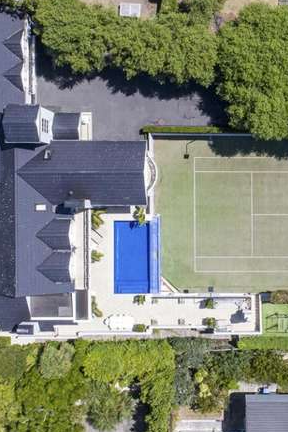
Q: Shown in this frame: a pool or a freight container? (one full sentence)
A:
It is a pool that can be seen here.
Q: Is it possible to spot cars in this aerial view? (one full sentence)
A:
No, the picture doesn't show any car.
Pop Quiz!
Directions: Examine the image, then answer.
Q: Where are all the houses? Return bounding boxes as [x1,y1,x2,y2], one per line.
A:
[0,7,162,345]
[180,370,288,432]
